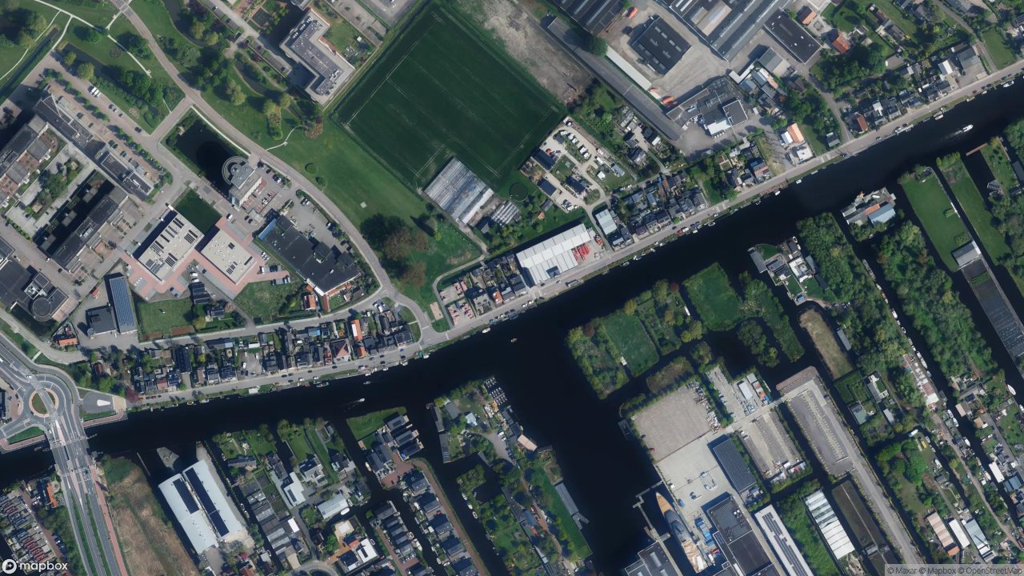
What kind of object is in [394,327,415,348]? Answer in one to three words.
house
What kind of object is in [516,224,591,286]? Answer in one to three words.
building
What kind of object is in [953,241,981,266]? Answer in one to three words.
barn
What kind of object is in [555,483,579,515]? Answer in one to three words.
boat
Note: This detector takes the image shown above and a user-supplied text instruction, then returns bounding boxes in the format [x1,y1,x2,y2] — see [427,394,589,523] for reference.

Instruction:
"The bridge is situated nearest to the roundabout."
[48,432,102,468]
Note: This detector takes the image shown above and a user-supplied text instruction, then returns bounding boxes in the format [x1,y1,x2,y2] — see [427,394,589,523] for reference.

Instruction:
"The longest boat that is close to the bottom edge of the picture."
[656,493,706,571]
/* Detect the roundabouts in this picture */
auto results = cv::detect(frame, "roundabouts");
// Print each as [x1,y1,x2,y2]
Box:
[18,377,70,428]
